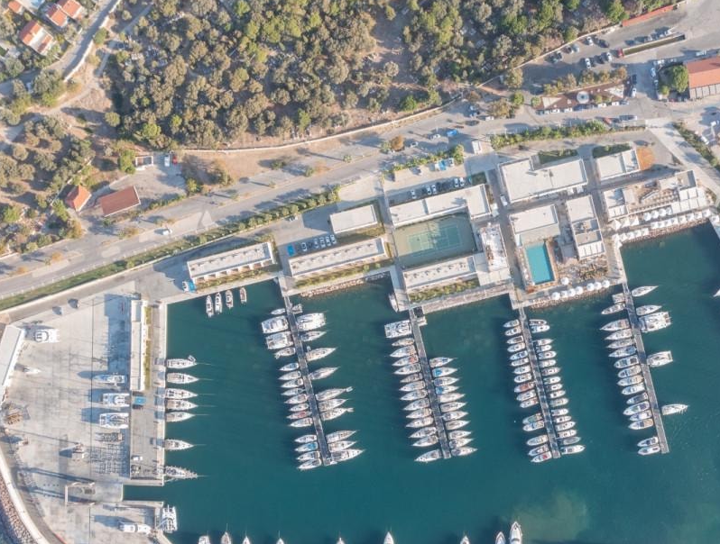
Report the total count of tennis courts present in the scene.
1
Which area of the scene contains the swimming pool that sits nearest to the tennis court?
right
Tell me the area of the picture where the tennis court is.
center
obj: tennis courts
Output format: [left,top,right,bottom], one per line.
[392,209,479,269]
